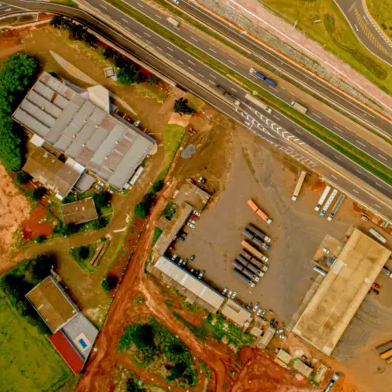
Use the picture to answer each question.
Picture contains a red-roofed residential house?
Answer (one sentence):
Yes, the image includes a red-roofed residential house.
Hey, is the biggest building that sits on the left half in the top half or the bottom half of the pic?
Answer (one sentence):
The top half of the photo is where the biggest building that sits on the left half is.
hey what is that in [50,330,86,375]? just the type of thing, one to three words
house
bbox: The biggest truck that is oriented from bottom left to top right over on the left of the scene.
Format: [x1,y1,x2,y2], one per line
[126,166,148,190]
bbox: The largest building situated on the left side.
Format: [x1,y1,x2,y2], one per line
[12,71,157,192]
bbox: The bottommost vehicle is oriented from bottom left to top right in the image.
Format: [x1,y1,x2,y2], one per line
[323,372,339,392]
